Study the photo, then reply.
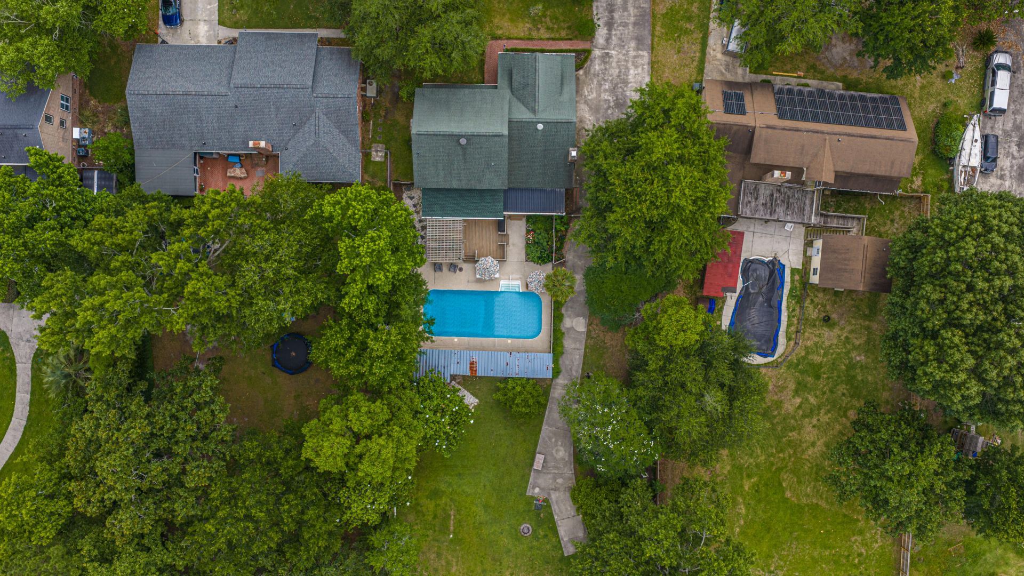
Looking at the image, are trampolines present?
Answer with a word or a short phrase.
Yes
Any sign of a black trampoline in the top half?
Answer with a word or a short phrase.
No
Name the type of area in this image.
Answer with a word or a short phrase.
residential area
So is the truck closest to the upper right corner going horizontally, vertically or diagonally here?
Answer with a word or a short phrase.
vertically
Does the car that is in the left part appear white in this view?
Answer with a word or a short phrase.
No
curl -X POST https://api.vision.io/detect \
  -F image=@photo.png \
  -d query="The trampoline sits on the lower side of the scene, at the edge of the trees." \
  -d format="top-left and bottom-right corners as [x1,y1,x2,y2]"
[272,334,311,373]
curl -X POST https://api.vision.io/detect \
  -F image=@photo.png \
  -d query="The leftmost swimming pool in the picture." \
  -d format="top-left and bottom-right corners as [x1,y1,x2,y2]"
[423,277,543,341]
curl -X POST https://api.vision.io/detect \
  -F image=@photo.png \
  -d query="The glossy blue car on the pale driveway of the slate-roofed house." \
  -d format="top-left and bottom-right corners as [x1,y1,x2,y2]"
[155,0,181,26]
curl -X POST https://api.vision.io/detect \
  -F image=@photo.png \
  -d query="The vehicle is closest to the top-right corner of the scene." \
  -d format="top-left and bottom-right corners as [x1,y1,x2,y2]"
[987,48,1021,115]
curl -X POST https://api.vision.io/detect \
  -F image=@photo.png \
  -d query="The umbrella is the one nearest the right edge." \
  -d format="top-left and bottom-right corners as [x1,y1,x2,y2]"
[525,271,547,292]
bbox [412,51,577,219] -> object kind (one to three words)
house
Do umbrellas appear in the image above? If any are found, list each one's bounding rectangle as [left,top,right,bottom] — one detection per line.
[525,271,547,292]
[475,255,500,280]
